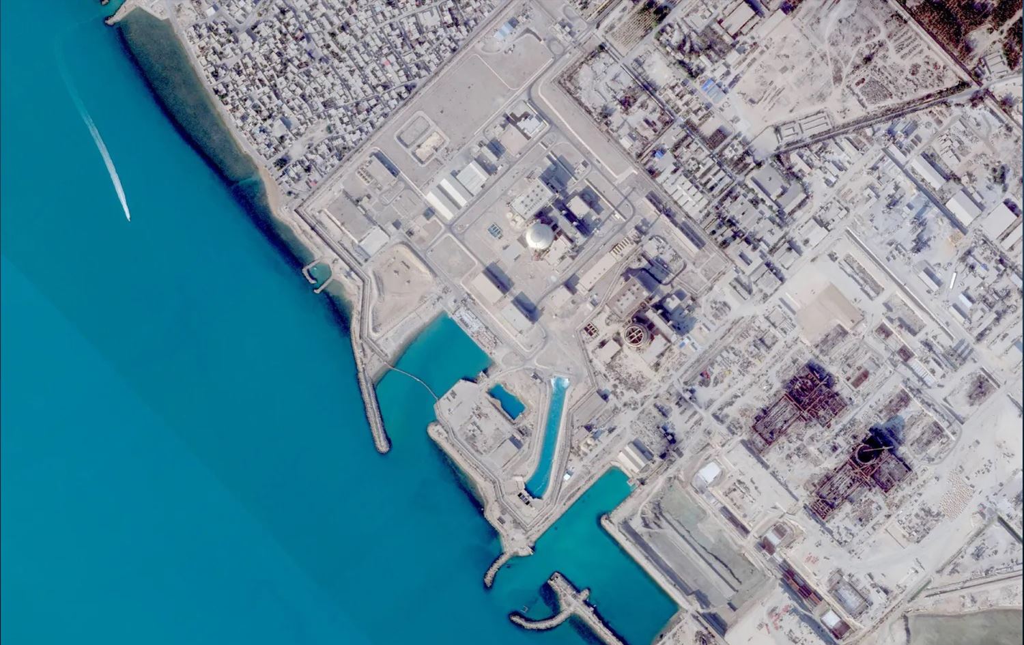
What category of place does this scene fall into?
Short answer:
residential area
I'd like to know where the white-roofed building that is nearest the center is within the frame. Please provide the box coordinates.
[502,301,532,332]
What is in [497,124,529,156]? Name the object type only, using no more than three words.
building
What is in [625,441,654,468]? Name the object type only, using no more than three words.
shed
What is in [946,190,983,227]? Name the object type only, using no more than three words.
shed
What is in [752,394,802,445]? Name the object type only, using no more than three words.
building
